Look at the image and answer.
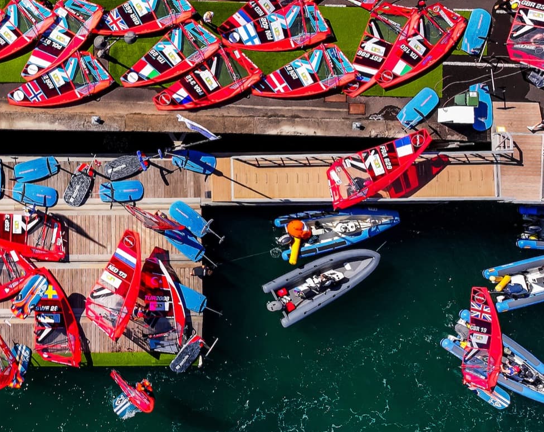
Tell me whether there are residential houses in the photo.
No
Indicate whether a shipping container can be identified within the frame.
No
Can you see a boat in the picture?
Yes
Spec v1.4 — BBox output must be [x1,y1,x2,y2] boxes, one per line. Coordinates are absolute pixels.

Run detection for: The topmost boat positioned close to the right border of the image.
[505,206,544,247]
